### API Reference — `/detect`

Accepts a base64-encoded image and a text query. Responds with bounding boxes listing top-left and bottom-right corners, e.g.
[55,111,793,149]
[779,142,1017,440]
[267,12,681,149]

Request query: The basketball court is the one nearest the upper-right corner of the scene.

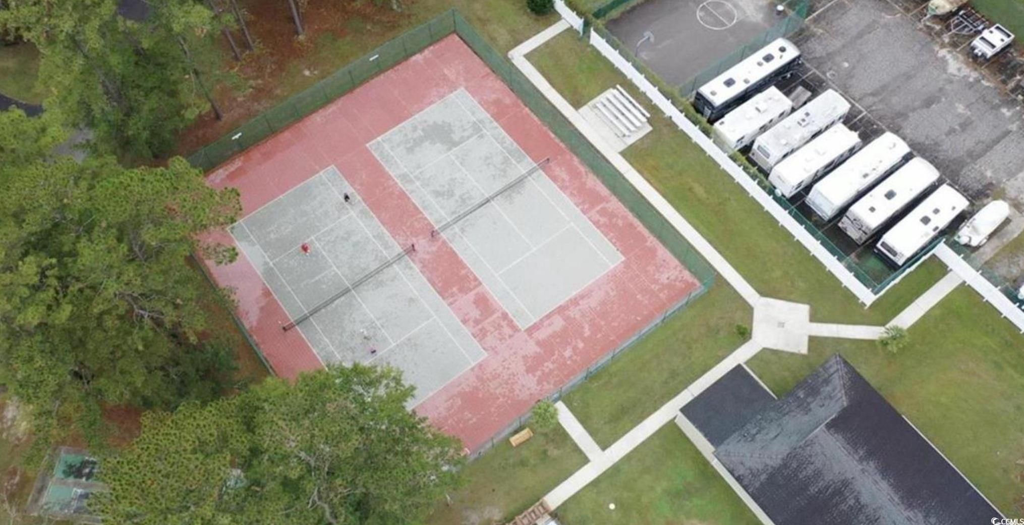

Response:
[602,0,824,95]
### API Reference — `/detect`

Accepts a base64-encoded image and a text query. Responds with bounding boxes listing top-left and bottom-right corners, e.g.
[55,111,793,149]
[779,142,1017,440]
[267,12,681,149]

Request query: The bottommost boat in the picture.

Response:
[954,204,1009,252]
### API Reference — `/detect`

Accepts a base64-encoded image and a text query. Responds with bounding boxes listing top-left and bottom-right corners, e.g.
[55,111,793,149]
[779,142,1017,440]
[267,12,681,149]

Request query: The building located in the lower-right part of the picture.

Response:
[673,353,1017,525]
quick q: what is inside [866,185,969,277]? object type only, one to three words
camper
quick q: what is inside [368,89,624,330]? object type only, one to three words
tennis court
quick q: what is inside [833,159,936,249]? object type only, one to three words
camper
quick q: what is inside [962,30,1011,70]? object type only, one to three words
trailer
